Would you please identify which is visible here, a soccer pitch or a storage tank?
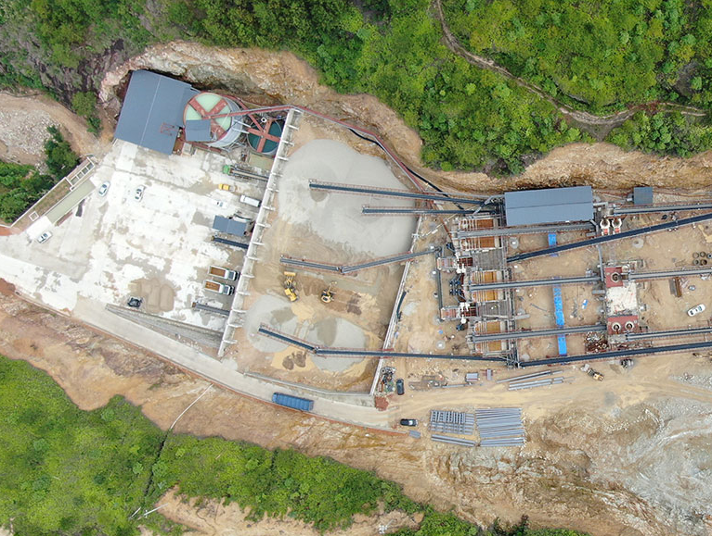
storage tank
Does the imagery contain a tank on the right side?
No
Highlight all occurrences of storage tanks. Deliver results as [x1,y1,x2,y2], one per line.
[246,118,285,154]
[182,91,244,146]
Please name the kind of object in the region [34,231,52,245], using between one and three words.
car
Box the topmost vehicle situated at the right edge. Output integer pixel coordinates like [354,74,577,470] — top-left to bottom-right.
[687,304,706,317]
